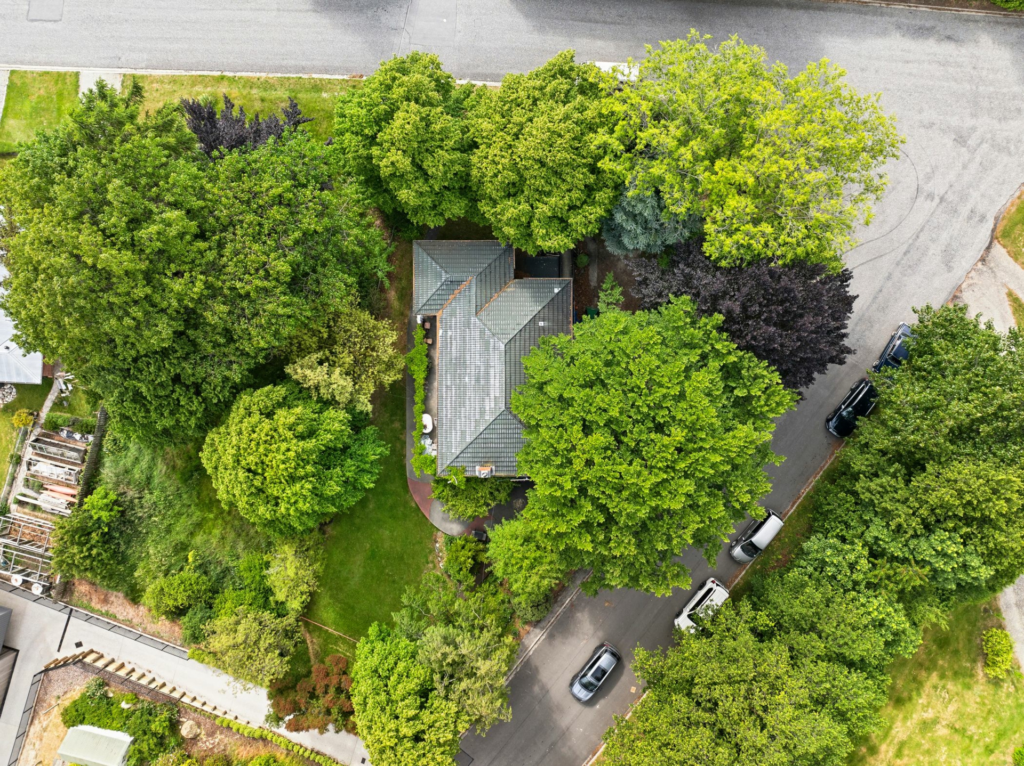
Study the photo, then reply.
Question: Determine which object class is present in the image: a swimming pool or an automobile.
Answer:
automobile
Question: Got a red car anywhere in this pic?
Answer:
No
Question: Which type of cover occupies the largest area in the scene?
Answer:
trees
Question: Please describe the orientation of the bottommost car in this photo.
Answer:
on a diagonal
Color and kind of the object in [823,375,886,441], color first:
black car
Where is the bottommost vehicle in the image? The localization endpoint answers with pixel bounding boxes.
[570,640,622,702]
